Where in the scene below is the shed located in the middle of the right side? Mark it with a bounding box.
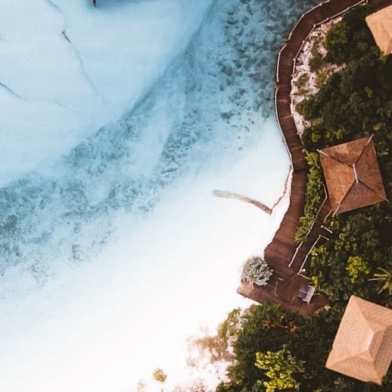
[316,136,388,218]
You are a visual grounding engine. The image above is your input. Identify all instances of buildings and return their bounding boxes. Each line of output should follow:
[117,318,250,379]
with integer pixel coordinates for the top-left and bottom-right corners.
[366,6,392,60]
[326,295,392,386]
[316,136,388,218]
